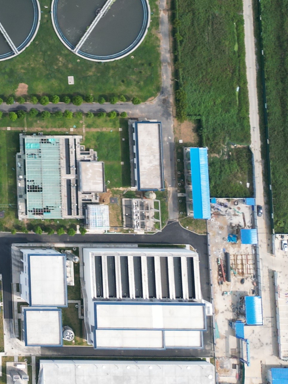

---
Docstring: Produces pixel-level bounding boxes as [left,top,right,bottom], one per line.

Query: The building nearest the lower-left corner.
[20,305,62,346]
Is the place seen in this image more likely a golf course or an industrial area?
industrial area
